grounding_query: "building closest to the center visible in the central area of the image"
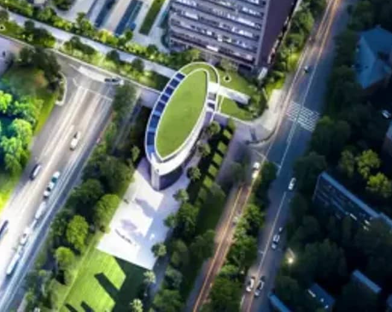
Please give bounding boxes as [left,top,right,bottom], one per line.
[137,61,218,190]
